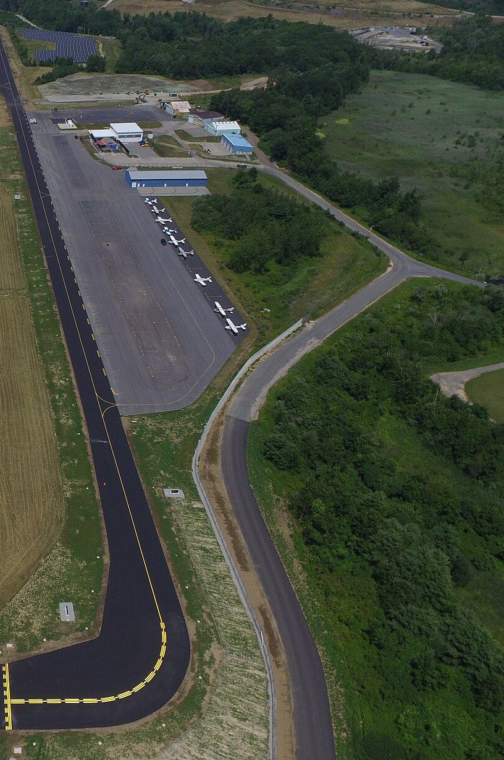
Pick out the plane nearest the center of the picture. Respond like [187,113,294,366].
[226,318,249,333]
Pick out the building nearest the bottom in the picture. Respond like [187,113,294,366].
[126,171,210,187]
